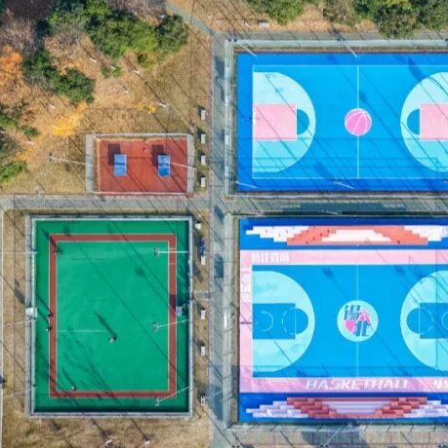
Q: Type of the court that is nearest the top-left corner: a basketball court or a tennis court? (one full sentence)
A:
The court that is nearest the top-left corner can be classified as a tennis court.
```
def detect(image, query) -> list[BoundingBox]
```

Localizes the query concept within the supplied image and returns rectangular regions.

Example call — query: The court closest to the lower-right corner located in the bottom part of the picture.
[239,216,448,423]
